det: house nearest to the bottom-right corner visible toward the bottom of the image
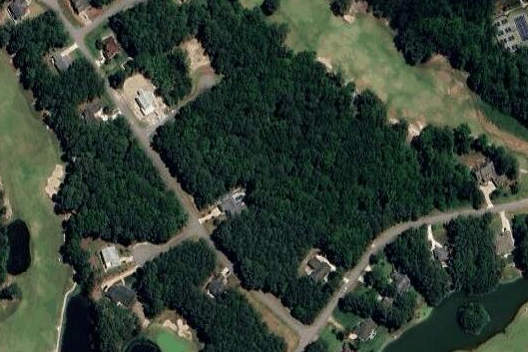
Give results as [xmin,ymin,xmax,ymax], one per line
[496,235,515,253]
